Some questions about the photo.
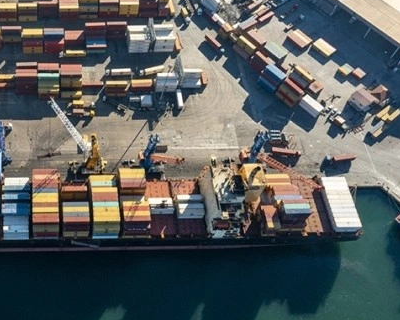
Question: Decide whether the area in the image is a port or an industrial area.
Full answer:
This looks like a port.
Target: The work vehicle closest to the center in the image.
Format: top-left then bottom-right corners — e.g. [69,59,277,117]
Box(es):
[160,97,178,116]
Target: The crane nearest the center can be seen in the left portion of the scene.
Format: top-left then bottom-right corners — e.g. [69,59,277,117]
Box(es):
[128,141,187,177]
